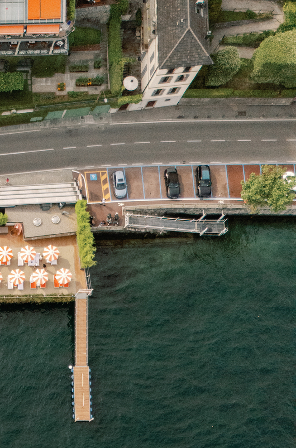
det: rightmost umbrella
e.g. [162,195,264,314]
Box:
[120,74,142,93]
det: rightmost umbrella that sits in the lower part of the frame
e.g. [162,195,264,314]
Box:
[54,269,73,286]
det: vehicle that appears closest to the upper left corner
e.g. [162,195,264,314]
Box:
[111,171,129,199]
